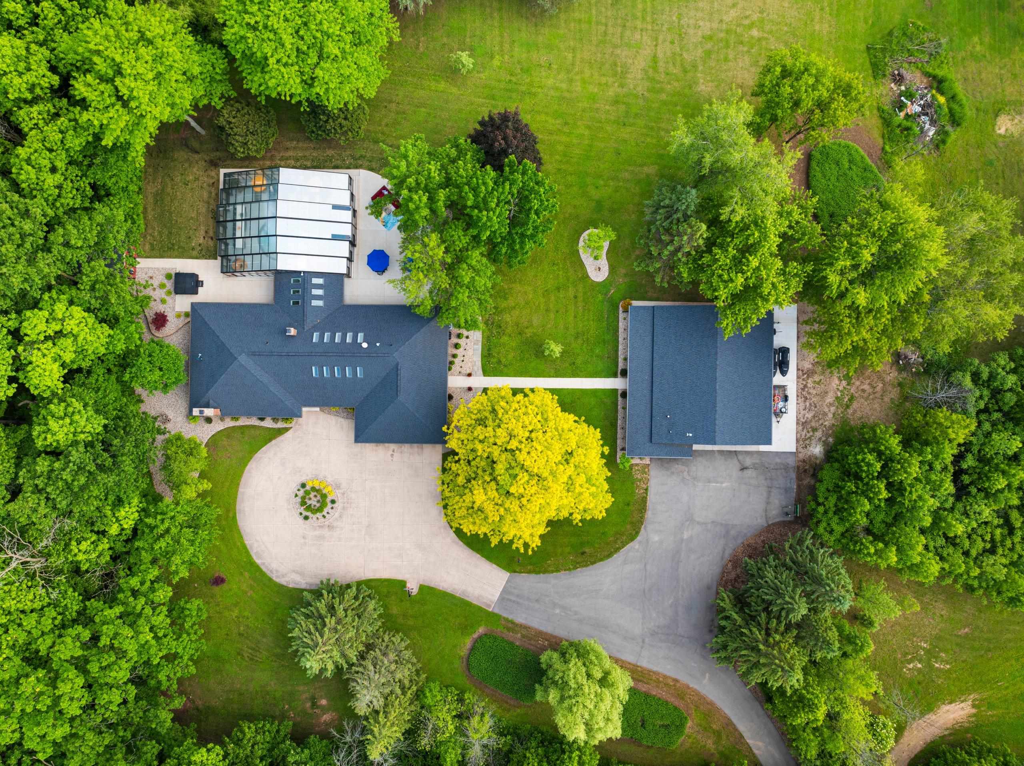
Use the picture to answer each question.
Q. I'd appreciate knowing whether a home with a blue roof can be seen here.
Yes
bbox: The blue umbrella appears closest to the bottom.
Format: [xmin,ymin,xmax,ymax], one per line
[367,249,390,272]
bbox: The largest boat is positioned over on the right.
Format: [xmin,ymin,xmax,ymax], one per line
[777,346,789,377]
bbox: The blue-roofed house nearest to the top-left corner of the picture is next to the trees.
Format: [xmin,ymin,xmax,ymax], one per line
[188,270,450,446]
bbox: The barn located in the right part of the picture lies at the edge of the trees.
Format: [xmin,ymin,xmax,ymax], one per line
[625,305,775,459]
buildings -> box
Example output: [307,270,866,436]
[188,270,450,446]
[625,305,775,459]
